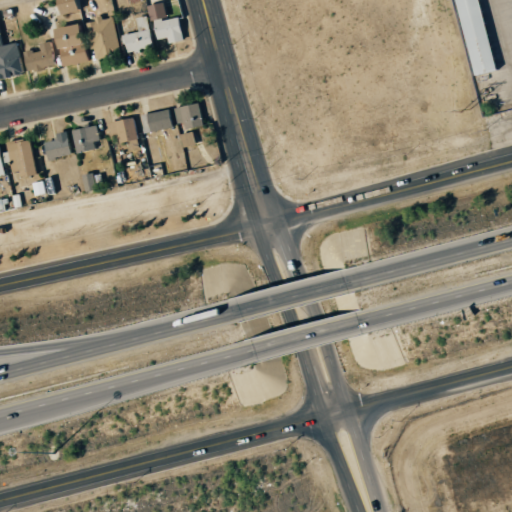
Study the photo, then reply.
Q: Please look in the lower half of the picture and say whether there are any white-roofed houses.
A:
No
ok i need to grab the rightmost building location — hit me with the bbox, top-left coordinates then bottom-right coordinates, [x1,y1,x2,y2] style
[454,0,498,76]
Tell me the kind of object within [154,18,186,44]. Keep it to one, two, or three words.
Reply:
house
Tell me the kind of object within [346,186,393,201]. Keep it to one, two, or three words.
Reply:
vehicle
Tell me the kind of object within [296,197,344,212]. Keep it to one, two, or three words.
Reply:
vehicle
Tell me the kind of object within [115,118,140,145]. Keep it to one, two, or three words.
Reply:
house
